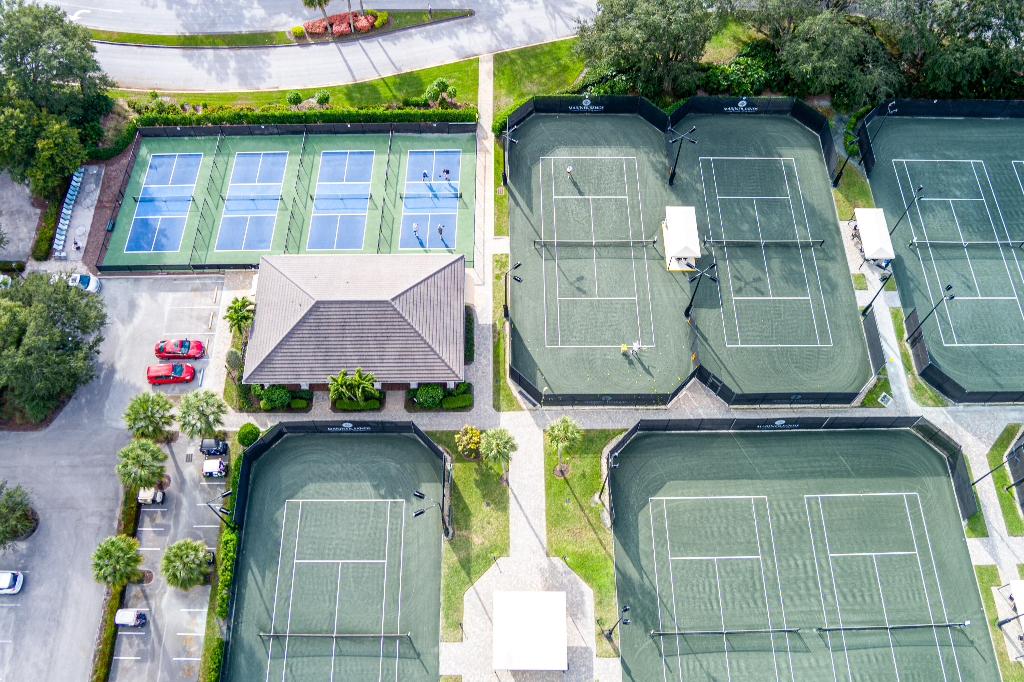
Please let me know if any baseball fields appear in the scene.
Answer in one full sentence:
No, the scene contains no baseball field.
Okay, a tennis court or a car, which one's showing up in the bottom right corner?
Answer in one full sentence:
It is a tennis court that can be seen in the bottom right corner.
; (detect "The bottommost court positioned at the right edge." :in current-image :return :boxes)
[752,428,1004,682]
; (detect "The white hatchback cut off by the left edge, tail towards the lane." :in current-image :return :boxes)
[0,573,25,596]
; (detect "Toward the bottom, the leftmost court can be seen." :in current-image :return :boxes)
[226,433,444,682]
